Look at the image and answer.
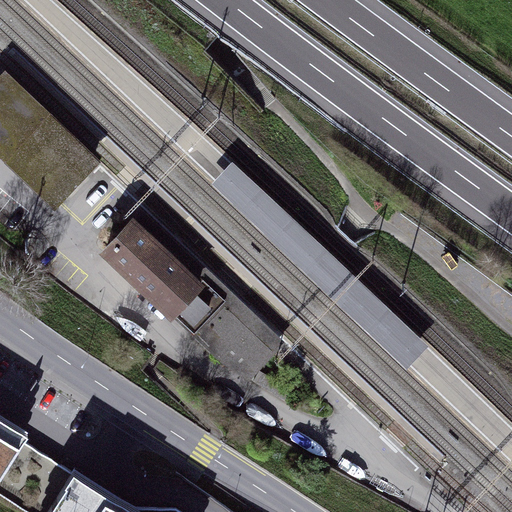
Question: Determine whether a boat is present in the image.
Yes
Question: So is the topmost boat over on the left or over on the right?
left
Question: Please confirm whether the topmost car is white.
Yes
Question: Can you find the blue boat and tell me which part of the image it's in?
bottom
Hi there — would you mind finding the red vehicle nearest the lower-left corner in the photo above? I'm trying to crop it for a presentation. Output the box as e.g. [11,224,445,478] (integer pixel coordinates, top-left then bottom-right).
[40,388,55,410]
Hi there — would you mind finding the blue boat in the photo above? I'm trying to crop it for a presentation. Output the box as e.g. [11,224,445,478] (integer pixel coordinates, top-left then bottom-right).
[287,428,330,458]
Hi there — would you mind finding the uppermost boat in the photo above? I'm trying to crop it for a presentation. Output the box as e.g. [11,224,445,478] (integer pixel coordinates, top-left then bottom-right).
[113,314,147,341]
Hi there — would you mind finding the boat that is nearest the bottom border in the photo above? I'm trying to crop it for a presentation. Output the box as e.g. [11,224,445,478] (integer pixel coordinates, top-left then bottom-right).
[337,457,370,479]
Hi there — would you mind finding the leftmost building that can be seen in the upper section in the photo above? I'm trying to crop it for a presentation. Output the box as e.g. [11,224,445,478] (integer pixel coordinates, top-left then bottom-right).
[0,64,100,210]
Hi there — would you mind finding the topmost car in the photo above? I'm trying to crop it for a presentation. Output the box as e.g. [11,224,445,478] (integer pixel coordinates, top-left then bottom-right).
[85,185,108,207]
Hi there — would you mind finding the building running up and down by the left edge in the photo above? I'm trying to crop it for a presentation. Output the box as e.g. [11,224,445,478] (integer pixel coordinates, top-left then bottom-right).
[0,408,32,482]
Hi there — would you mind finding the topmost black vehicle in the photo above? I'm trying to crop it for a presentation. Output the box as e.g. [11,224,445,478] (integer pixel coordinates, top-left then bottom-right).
[7,207,24,229]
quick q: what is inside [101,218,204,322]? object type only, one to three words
house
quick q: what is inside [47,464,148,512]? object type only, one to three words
building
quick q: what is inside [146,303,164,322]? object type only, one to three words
car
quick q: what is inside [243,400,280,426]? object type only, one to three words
boat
